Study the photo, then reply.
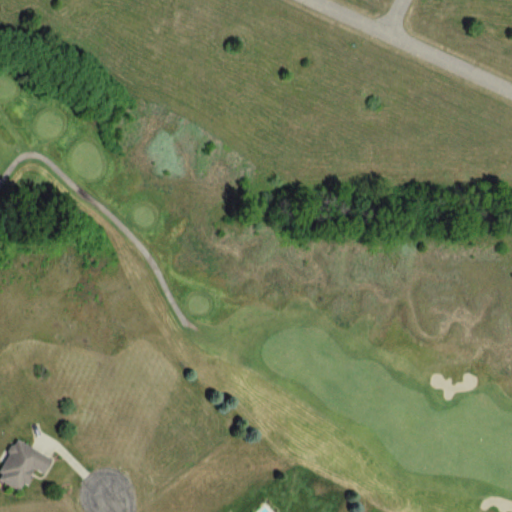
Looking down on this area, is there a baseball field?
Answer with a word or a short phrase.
No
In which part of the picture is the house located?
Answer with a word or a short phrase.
bottom left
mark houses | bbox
[0,440,52,492]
